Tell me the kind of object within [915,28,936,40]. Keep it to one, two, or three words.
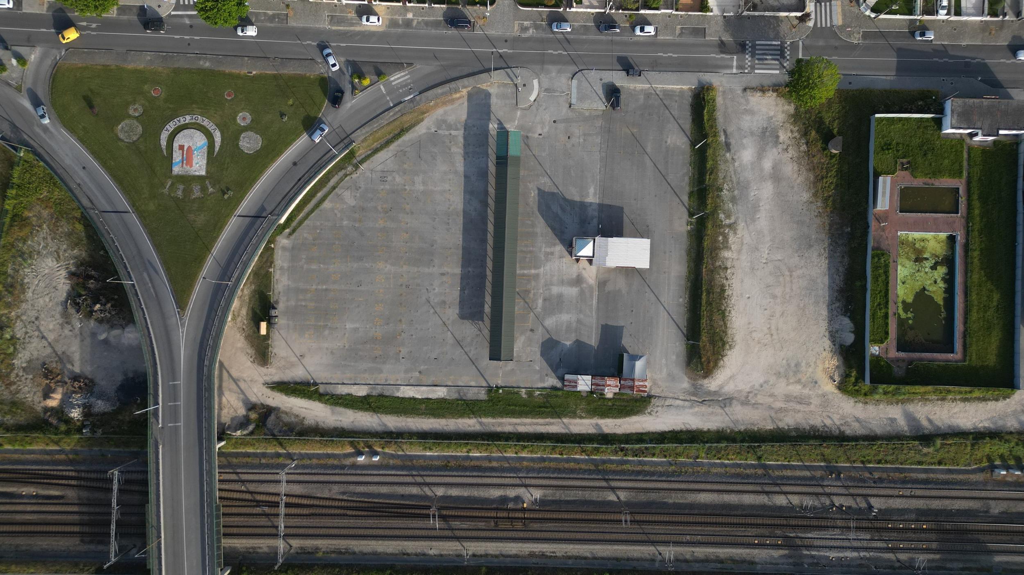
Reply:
vehicle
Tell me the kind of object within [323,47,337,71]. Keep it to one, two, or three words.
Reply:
car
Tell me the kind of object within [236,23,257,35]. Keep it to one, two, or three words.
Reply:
vehicle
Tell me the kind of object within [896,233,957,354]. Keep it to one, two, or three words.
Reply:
swimming pool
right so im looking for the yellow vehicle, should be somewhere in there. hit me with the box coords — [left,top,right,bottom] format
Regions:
[57,24,79,43]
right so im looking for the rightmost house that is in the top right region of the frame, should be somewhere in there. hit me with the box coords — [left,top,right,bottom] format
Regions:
[934,99,1024,140]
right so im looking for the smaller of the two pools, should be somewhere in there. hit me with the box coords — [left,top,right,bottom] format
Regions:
[898,185,960,214]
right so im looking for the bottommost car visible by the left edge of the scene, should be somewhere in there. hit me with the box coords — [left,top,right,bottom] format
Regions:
[33,103,48,123]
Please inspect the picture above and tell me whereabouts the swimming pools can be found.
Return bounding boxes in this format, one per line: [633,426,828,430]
[898,185,960,214]
[896,233,957,354]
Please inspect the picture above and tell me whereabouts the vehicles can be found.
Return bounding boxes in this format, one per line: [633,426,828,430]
[361,13,381,24]
[0,0,12,8]
[611,87,622,110]
[599,21,620,32]
[915,28,936,40]
[1016,49,1024,58]
[33,103,48,123]
[236,23,257,35]
[447,16,471,28]
[323,47,337,71]
[552,20,572,31]
[330,88,342,109]
[309,122,329,143]
[57,24,79,43]
[634,25,656,35]
[143,19,166,31]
